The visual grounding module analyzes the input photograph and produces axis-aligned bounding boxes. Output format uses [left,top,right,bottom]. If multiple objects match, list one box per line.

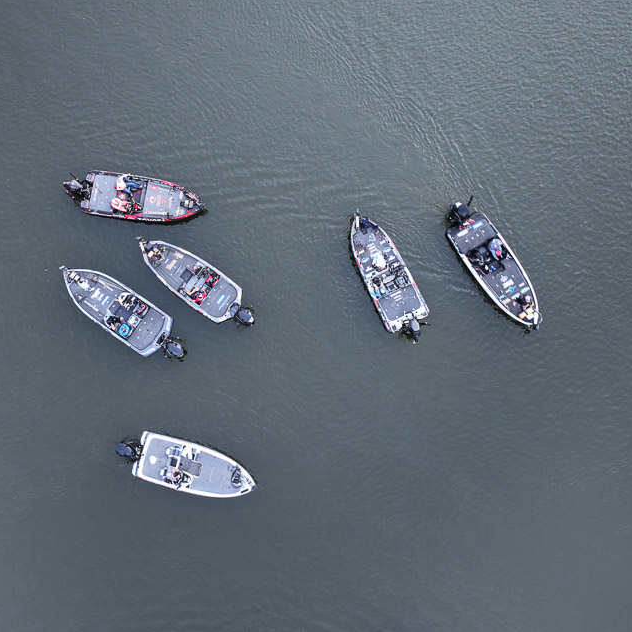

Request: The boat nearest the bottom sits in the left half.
[115,429,258,496]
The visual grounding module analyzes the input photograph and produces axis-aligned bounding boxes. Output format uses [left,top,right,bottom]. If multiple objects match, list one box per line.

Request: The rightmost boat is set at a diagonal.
[445,194,544,332]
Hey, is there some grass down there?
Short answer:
No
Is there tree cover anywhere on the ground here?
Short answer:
No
